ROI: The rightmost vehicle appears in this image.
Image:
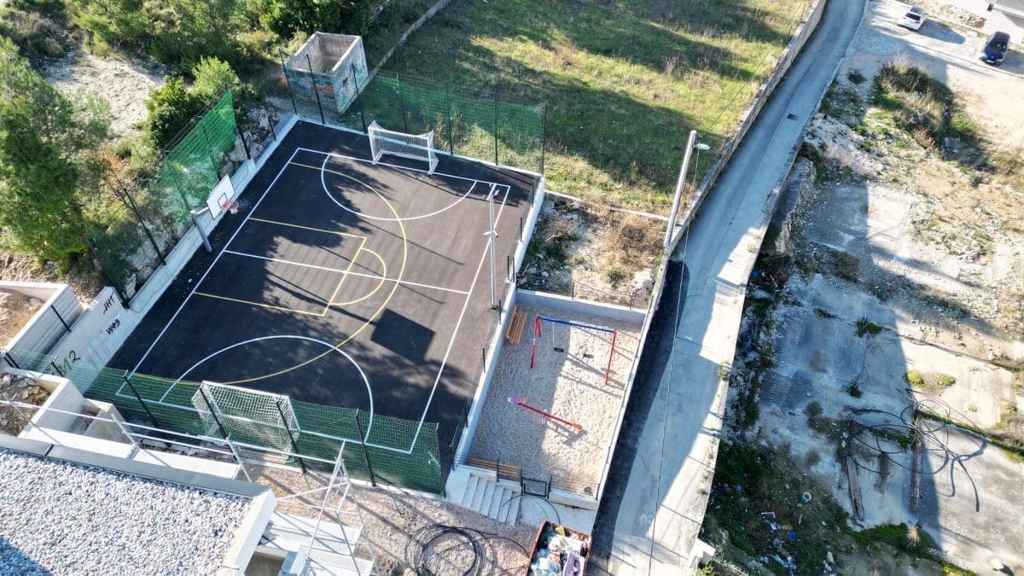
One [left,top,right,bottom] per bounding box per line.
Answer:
[978,31,1014,66]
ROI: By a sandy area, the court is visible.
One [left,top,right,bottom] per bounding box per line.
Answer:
[78,118,541,497]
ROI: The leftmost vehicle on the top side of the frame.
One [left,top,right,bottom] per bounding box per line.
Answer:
[897,2,931,29]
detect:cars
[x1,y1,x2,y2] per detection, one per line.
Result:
[897,2,931,29]
[978,31,1014,66]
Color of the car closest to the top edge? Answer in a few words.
white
